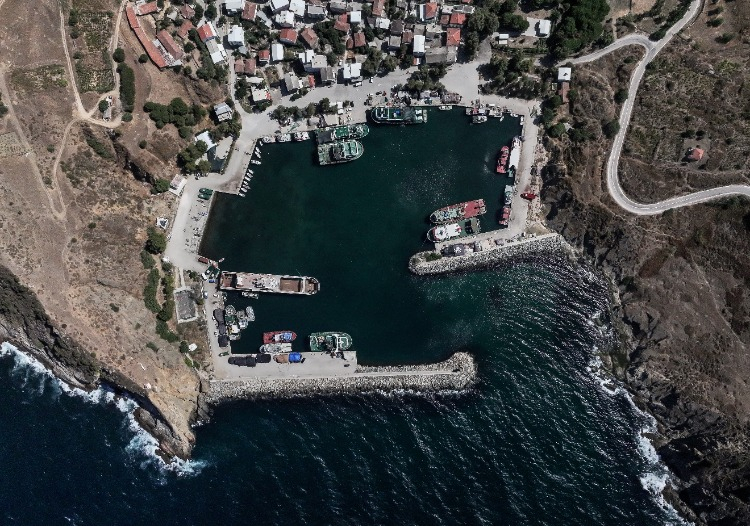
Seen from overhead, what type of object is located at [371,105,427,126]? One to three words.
boat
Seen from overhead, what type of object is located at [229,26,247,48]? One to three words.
house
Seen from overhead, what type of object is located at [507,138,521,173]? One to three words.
boat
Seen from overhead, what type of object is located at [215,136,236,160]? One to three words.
building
